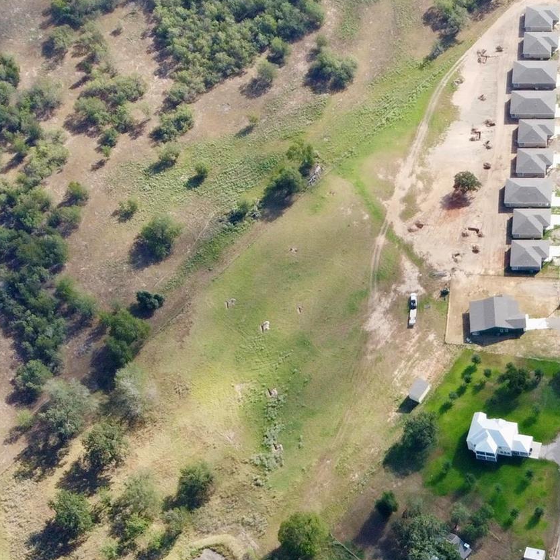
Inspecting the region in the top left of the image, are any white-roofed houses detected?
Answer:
No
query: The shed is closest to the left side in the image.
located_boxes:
[407,379,430,402]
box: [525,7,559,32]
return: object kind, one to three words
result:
house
